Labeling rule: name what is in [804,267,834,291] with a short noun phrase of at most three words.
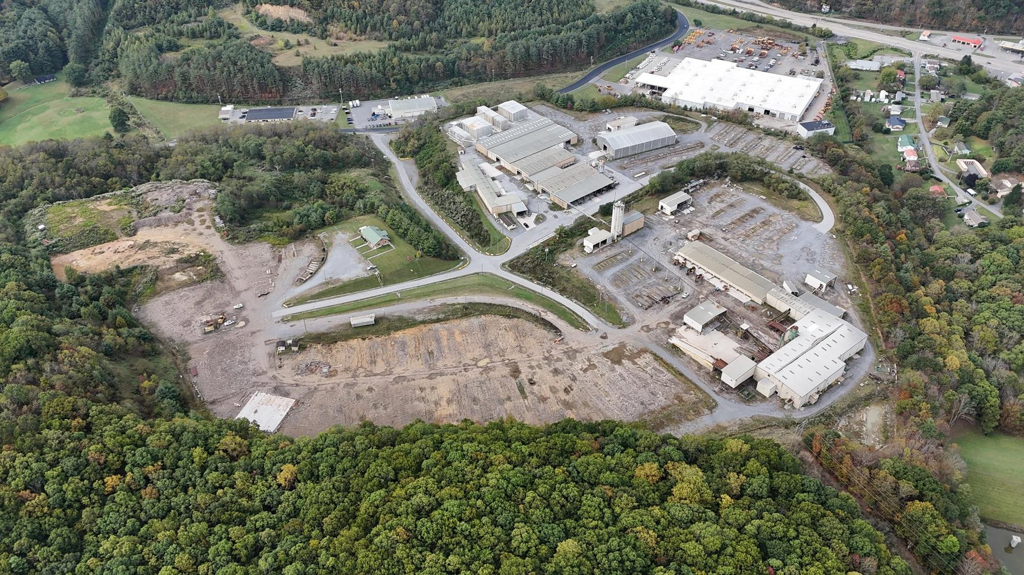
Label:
shed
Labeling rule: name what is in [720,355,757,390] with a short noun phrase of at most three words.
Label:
building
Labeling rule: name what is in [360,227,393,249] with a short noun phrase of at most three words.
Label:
house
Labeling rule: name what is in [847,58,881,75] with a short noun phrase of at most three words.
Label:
building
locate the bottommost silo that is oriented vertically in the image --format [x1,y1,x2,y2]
[611,194,626,242]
